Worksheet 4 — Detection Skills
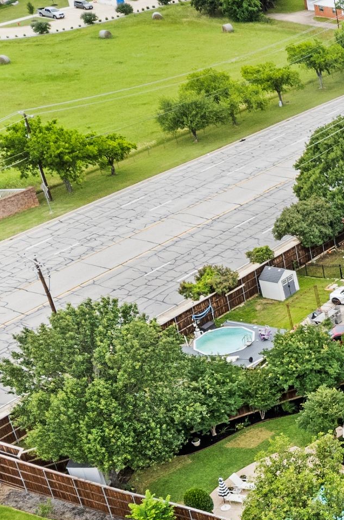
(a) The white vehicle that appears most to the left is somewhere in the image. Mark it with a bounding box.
[37,4,66,19]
